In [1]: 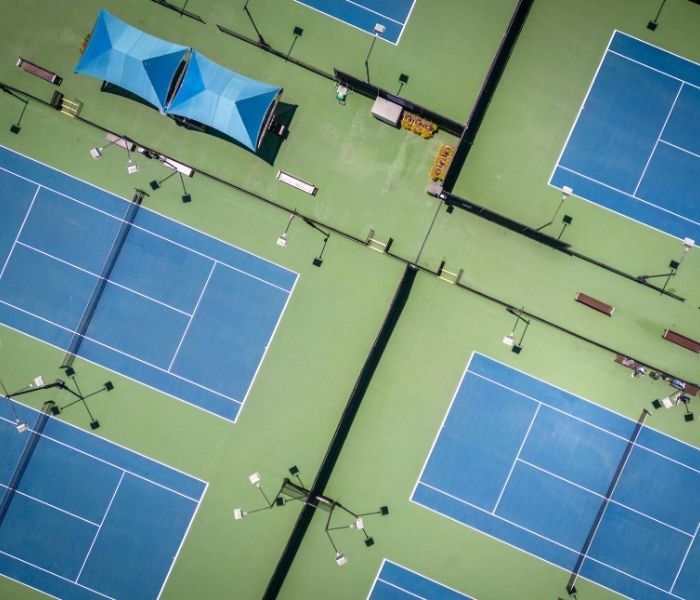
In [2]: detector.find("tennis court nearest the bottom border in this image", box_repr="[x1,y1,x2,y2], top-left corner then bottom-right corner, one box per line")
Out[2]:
[368,560,477,600]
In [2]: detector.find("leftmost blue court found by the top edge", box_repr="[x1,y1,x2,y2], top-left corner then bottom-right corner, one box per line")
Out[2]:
[291,0,416,44]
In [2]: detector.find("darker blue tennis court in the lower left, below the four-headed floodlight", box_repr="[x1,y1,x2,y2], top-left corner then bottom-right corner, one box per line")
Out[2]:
[0,394,206,600]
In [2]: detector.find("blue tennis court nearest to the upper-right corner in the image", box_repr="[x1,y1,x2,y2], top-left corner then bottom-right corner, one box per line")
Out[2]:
[549,31,700,247]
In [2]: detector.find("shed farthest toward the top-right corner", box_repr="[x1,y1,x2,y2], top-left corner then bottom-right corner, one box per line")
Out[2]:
[371,97,403,126]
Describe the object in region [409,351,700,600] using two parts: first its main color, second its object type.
blue tennis court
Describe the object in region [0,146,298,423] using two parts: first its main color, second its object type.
blue tennis court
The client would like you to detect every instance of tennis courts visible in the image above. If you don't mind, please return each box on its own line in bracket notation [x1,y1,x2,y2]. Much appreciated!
[0,146,298,423]
[0,394,206,600]
[291,0,416,44]
[549,31,700,247]
[409,351,700,600]
[368,560,477,600]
